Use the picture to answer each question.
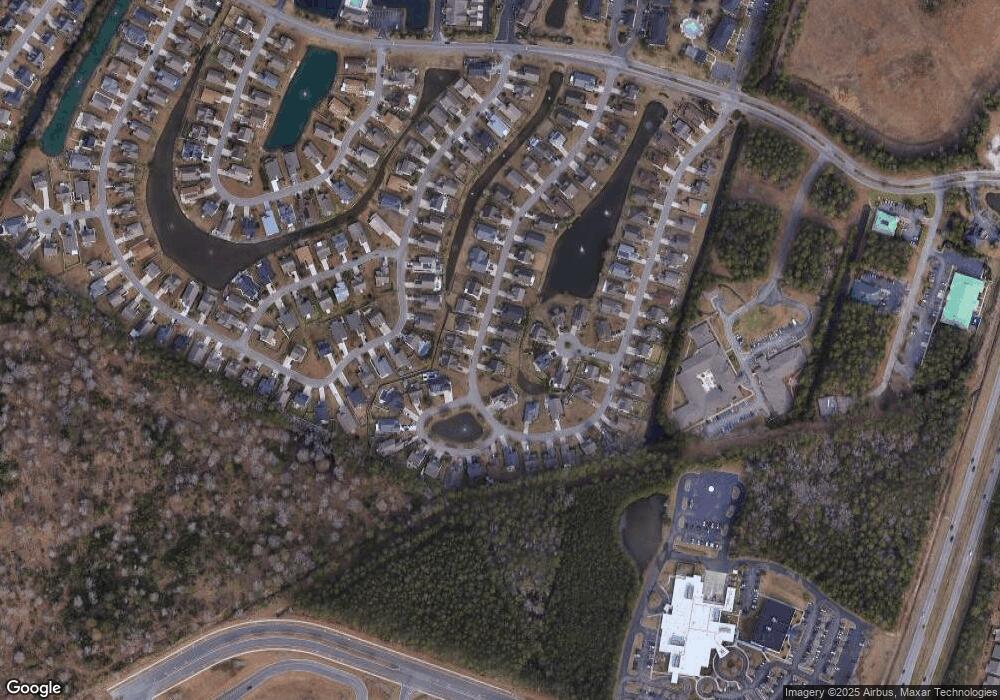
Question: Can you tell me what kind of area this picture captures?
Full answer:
The picture captures a residential area.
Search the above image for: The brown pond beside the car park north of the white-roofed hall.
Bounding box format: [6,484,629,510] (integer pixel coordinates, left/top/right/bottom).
[620,494,667,561]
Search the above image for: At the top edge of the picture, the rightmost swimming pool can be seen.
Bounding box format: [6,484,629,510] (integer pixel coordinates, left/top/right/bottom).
[682,20,702,37]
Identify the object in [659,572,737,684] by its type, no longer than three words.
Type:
building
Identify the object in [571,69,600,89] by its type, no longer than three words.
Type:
house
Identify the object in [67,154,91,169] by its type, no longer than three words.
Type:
house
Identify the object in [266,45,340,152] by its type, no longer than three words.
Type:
pond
